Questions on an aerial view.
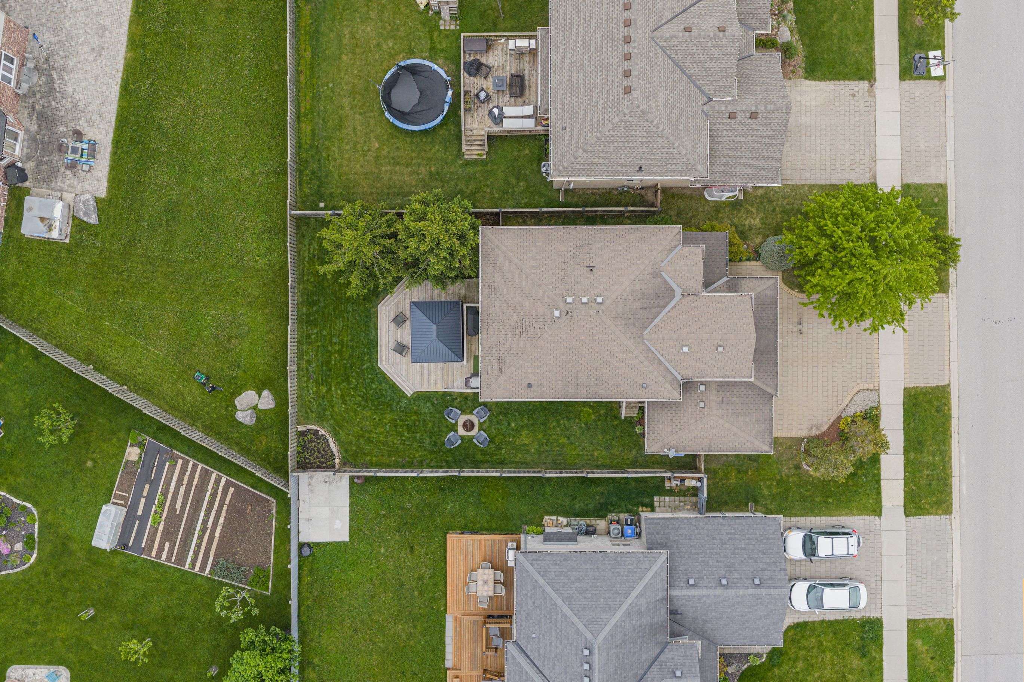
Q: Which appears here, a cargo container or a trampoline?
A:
trampoline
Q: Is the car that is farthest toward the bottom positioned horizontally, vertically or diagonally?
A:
horizontally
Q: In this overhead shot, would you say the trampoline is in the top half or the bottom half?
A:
top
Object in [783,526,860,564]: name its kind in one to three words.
car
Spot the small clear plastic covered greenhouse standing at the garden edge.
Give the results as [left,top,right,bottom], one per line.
[85,504,130,555]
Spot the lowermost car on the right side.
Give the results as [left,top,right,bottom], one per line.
[788,576,866,616]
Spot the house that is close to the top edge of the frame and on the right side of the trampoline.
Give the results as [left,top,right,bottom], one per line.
[538,0,792,191]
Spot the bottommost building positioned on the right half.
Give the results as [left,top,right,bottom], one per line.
[505,514,791,682]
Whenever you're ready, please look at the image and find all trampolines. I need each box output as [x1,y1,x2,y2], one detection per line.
[370,58,452,130]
